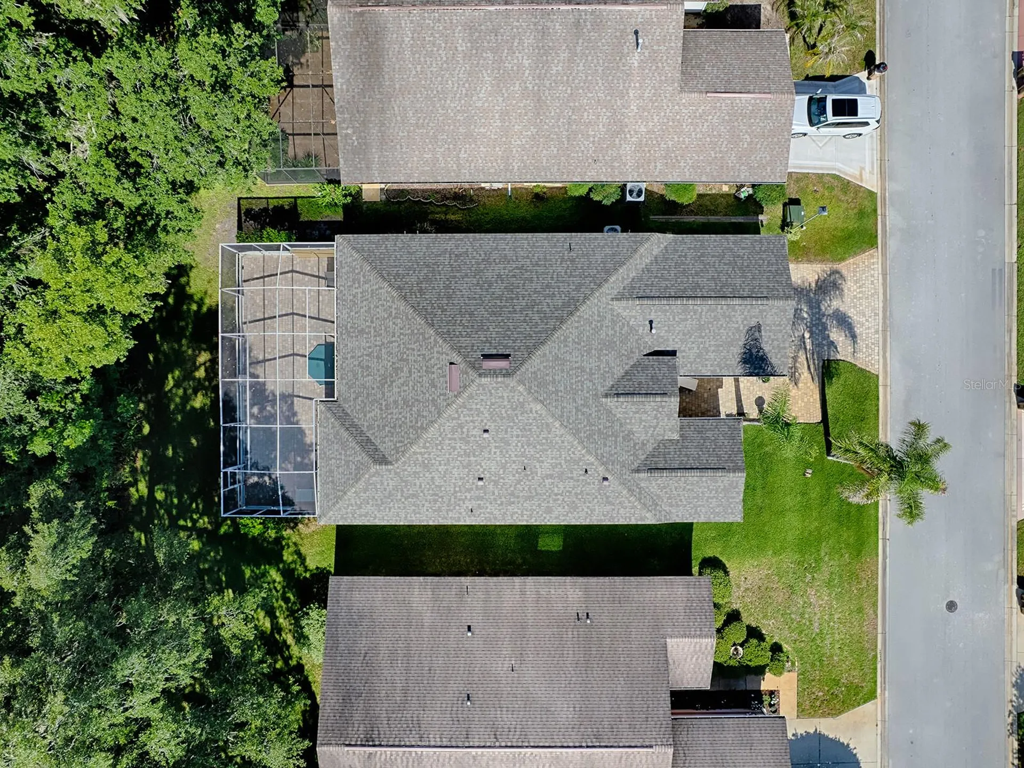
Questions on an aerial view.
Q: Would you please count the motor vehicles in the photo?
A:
one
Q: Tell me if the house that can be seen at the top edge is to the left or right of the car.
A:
to its left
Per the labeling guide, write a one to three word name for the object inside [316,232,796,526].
house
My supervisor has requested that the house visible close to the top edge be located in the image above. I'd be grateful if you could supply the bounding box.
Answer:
[326,0,797,199]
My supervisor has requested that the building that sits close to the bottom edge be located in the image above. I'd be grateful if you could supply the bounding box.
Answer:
[317,575,791,768]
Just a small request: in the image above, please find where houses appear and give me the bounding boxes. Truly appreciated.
[326,0,797,199]
[317,575,791,768]
[316,232,796,526]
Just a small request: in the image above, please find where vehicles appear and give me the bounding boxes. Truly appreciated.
[793,88,882,138]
